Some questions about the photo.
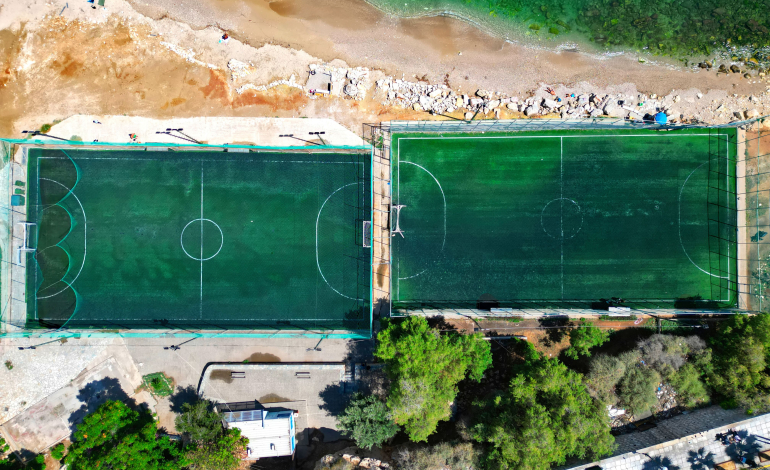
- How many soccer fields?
2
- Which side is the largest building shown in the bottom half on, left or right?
left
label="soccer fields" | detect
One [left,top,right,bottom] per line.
[28,148,371,329]
[393,131,737,309]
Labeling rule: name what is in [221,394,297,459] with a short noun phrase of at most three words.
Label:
building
